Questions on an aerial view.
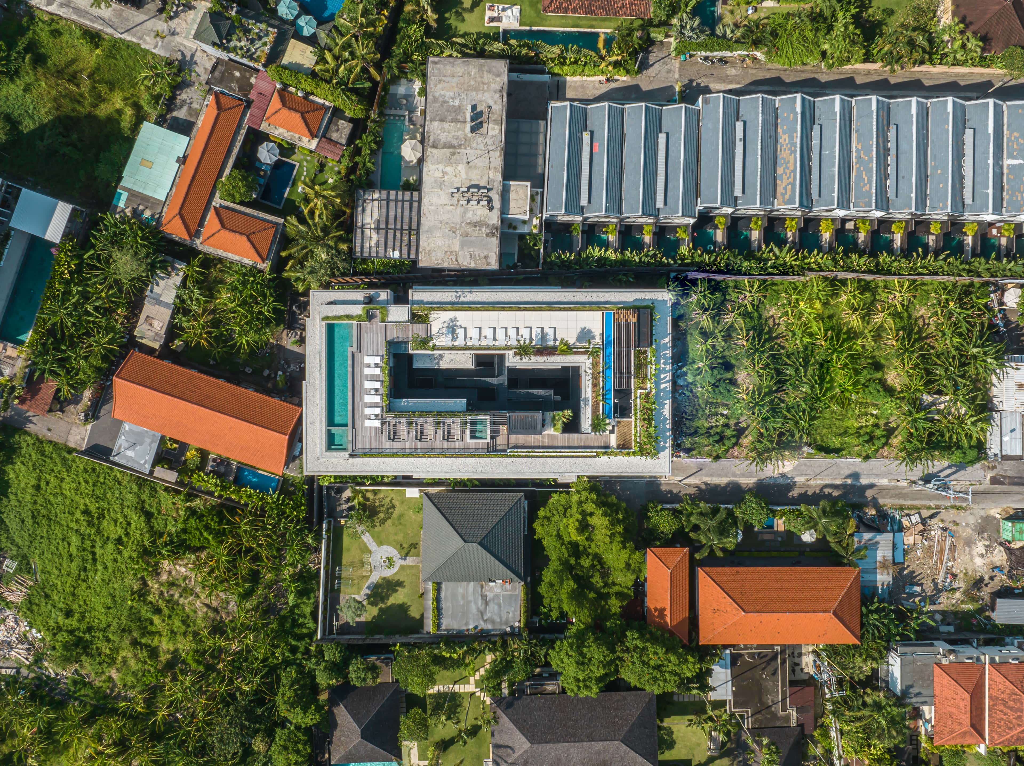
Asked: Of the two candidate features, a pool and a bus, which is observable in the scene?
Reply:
pool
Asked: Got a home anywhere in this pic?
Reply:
Yes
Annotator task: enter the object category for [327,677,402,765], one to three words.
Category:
house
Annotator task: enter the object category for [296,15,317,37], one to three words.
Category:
umbrella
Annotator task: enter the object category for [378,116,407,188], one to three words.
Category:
swimming pool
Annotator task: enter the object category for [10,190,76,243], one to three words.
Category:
building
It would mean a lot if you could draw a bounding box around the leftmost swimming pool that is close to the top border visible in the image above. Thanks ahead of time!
[294,0,346,24]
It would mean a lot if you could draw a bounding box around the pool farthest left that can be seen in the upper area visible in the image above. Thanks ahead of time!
[0,233,57,347]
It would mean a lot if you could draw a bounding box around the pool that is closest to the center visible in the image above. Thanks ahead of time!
[468,417,489,442]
